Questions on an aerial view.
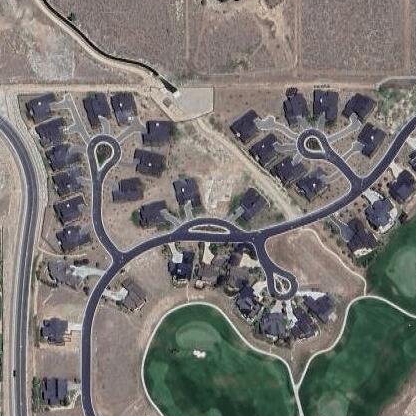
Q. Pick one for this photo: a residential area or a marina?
residential area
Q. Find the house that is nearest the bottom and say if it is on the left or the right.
left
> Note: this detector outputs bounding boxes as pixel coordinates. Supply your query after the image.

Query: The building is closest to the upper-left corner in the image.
[25,96,54,123]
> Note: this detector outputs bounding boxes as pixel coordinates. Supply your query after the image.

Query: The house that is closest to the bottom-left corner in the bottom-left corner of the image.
[42,380,68,406]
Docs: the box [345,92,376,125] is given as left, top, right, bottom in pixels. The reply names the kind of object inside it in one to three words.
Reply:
house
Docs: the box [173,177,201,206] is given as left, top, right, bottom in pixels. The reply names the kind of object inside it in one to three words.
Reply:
house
